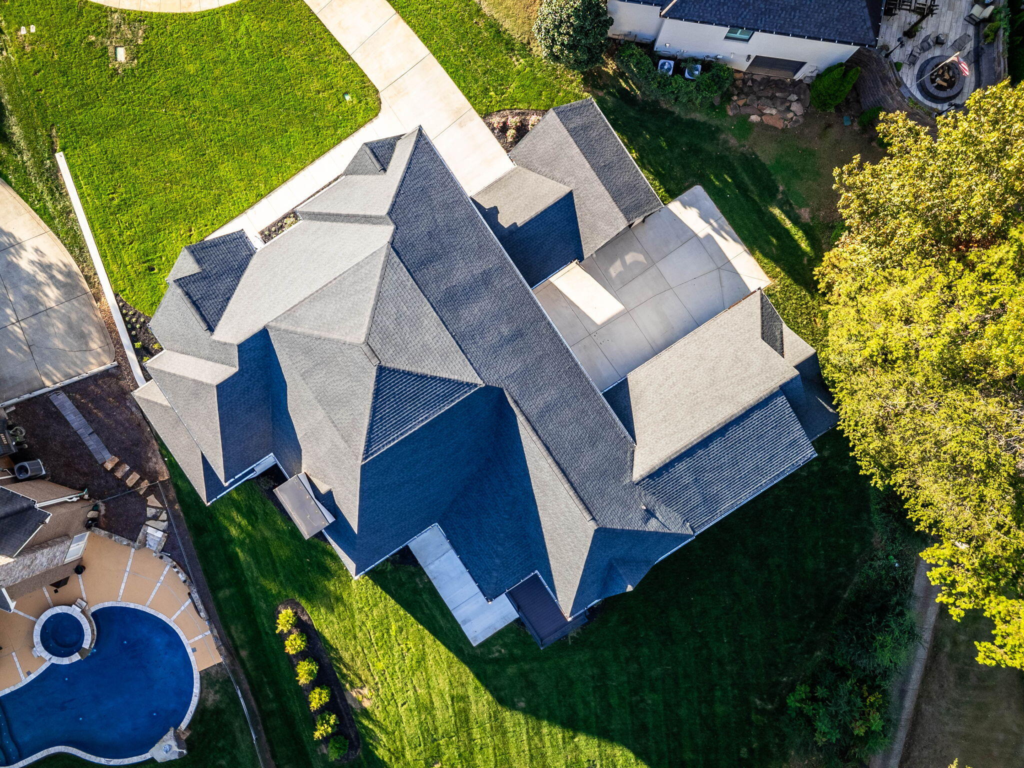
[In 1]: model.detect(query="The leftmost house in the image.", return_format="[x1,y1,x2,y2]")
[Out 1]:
[0,457,91,613]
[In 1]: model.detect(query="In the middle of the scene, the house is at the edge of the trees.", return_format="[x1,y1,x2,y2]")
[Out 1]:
[131,98,842,619]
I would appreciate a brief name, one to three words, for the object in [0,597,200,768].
swimming pool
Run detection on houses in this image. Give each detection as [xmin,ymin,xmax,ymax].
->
[608,0,888,75]
[131,98,842,619]
[0,457,91,613]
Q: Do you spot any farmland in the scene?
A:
No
